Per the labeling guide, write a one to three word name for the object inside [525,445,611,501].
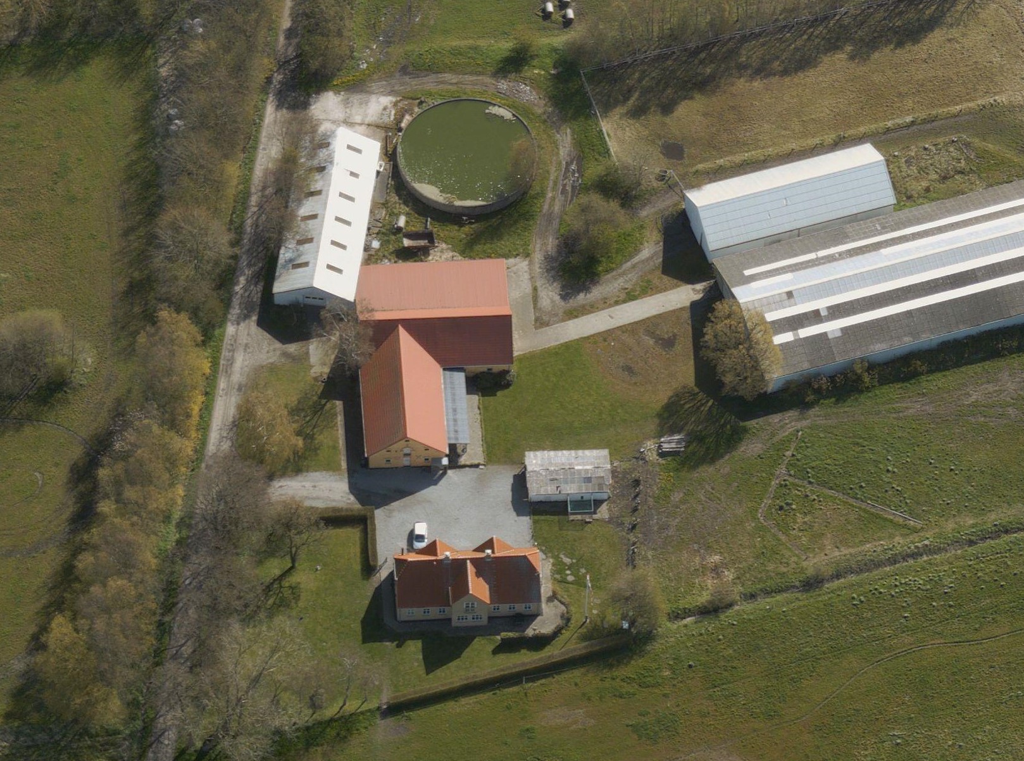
shed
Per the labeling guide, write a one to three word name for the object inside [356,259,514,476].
barn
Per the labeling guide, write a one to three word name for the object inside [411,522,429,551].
car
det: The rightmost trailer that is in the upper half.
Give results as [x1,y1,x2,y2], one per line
[402,224,436,253]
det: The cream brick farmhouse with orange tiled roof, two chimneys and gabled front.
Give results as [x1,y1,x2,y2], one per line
[394,535,544,627]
